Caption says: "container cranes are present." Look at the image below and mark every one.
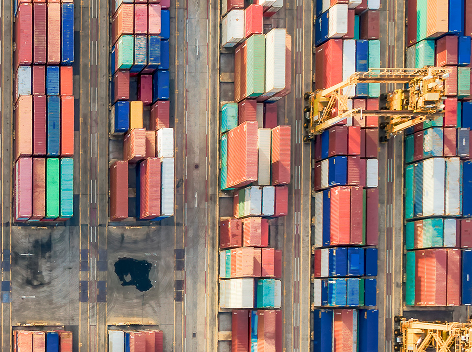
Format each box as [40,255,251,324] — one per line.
[394,316,472,352]
[303,76,444,142]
